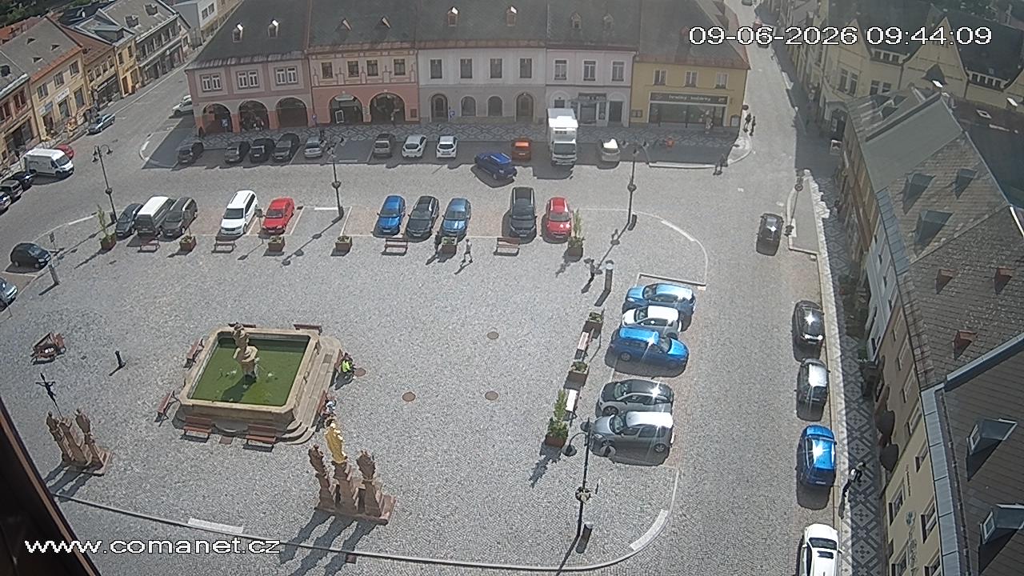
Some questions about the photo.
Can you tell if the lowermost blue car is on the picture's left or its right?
right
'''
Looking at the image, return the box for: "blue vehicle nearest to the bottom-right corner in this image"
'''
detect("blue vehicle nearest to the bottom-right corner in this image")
[798,424,845,485]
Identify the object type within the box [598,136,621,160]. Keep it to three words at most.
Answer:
car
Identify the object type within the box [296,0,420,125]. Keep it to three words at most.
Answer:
house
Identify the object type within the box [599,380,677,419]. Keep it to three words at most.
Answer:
car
